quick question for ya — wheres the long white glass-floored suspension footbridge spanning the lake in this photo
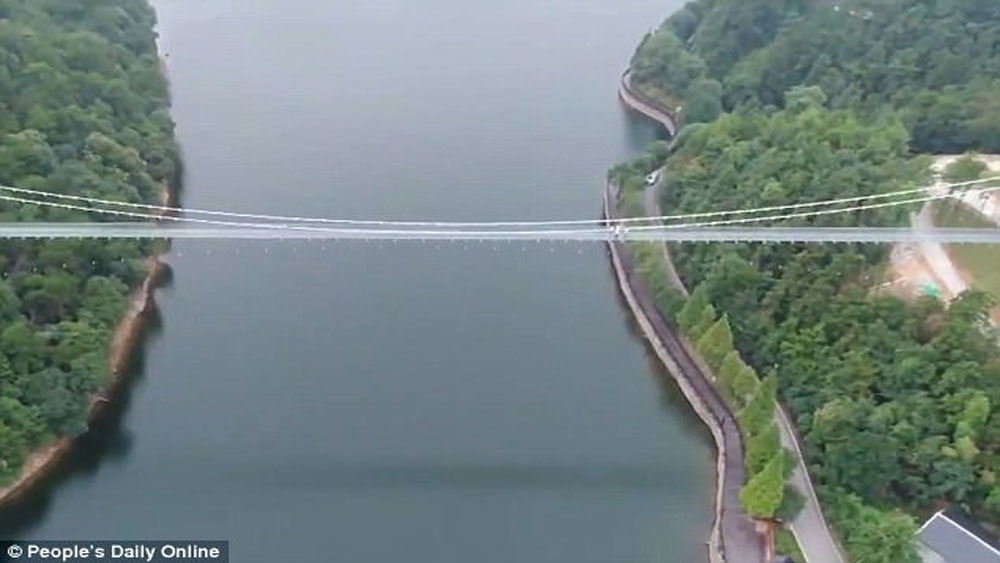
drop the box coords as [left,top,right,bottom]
[0,178,1000,299]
